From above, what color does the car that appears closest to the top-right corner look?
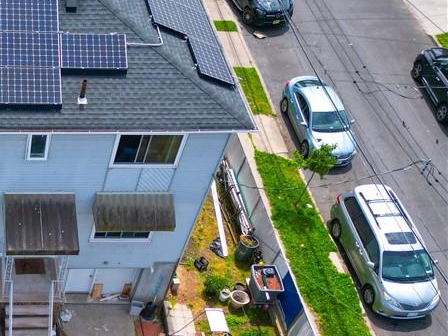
black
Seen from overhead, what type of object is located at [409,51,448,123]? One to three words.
car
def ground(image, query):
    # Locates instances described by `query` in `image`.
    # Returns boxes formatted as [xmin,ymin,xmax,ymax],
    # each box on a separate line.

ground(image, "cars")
[282,83,361,169]
[232,0,290,25]
[409,51,448,123]
[335,196,446,330]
